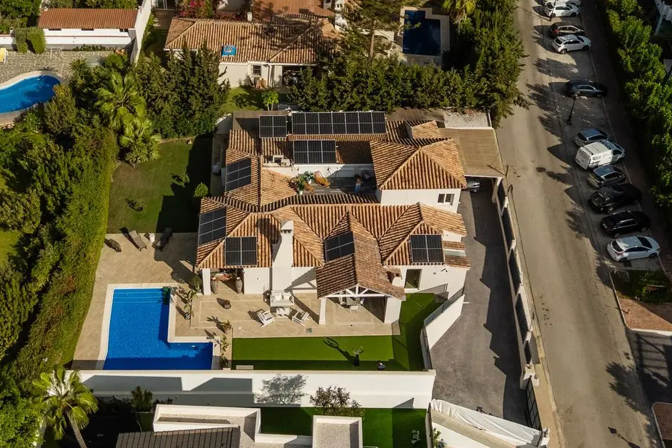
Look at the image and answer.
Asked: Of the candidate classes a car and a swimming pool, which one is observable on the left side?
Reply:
swimming pool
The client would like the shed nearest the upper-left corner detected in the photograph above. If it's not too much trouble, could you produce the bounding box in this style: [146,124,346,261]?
[39,8,144,45]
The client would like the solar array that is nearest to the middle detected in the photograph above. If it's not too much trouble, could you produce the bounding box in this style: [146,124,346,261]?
[325,232,355,263]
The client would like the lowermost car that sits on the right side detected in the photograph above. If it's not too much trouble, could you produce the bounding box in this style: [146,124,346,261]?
[605,236,665,263]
